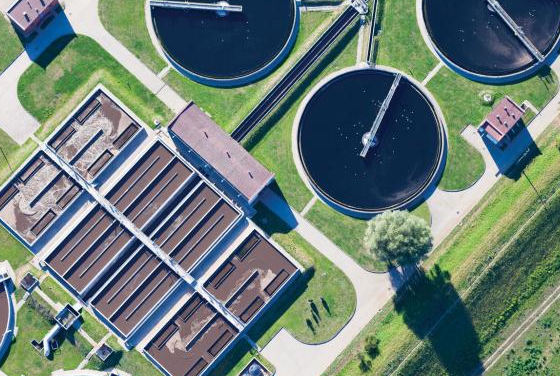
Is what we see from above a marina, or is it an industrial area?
industrial area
